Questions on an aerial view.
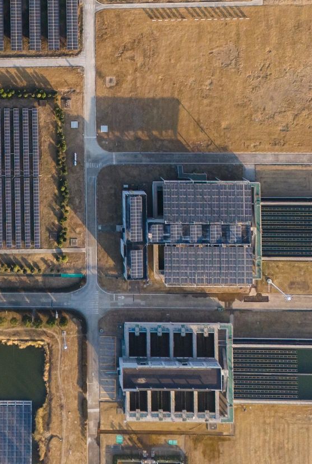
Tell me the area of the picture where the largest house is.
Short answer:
bottom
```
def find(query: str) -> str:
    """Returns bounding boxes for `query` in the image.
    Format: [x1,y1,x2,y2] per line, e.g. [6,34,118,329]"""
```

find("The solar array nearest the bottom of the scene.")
[131,250,143,278]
